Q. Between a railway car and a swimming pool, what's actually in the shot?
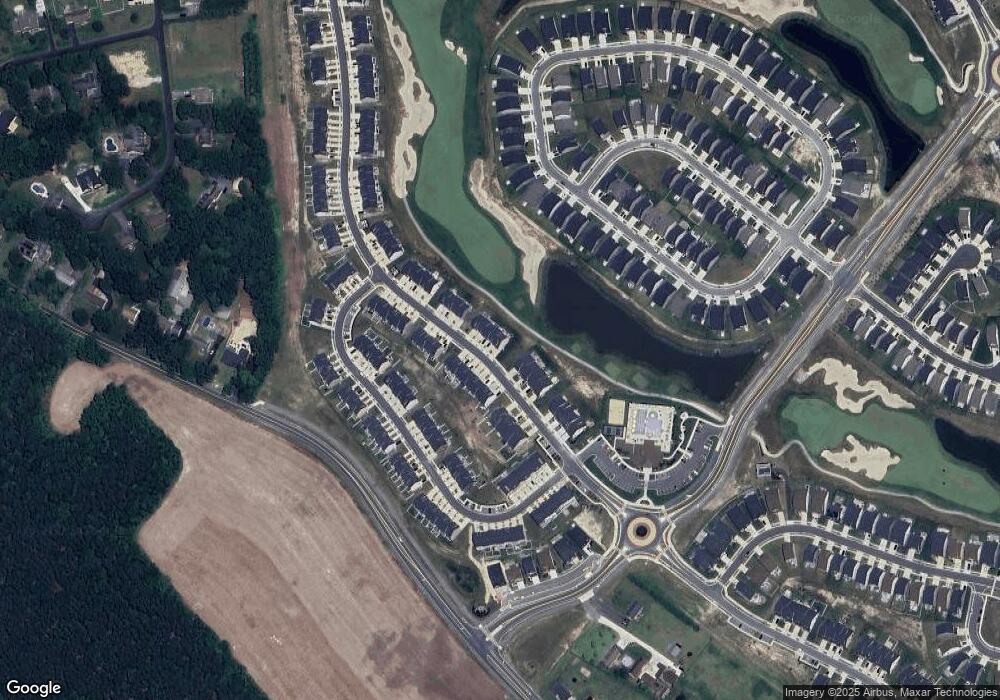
swimming pool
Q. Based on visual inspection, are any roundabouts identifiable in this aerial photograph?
Yes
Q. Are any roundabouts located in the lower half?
Yes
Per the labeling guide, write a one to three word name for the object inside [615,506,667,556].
roundabout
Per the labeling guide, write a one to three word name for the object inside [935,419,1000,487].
pond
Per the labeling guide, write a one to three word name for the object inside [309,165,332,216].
house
